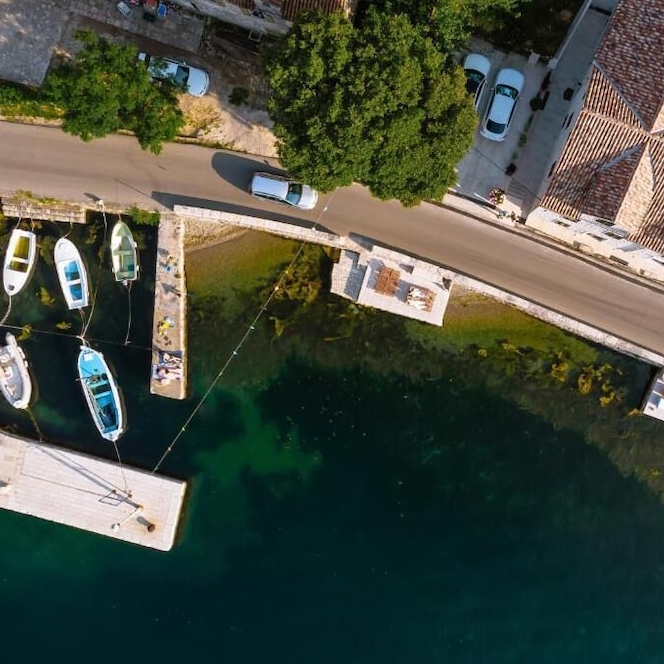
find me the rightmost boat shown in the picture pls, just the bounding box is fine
[109,220,144,287]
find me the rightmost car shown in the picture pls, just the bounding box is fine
[482,64,523,140]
